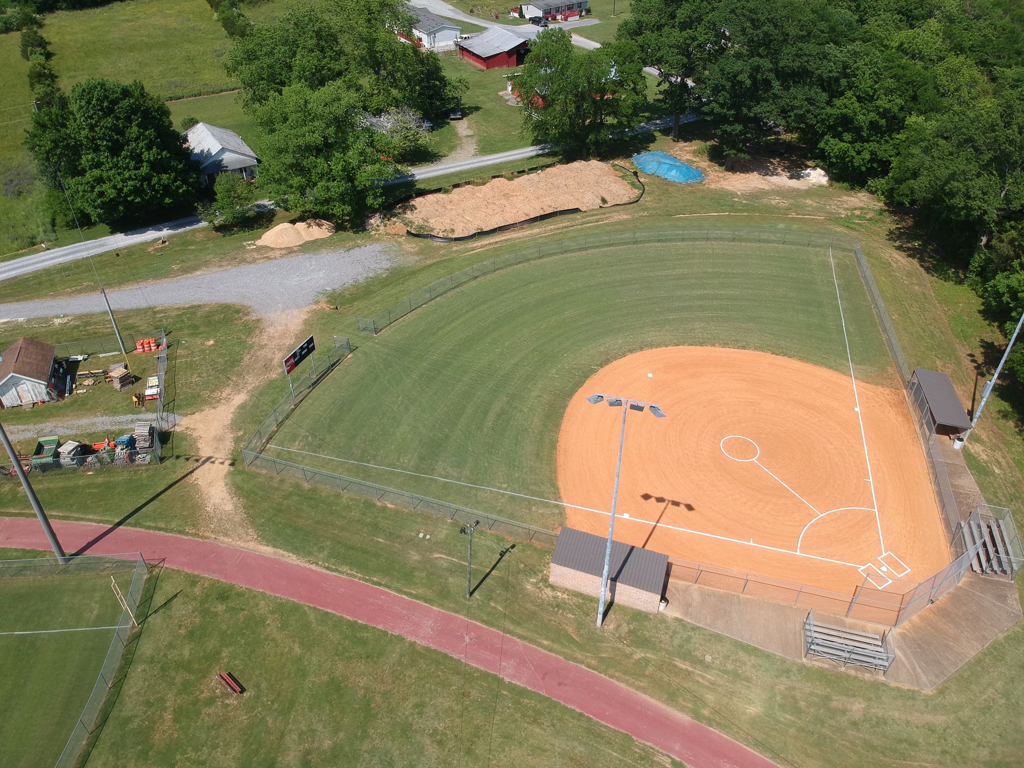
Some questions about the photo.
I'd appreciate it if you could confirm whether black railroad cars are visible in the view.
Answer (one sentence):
No, I can't see a single black railroad car in this photo.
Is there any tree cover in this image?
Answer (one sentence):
Yes, tree cover can be seen from above here.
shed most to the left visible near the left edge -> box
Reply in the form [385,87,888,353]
[0,334,59,413]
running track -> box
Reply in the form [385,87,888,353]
[0,517,782,768]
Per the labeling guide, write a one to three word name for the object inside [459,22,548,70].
barn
